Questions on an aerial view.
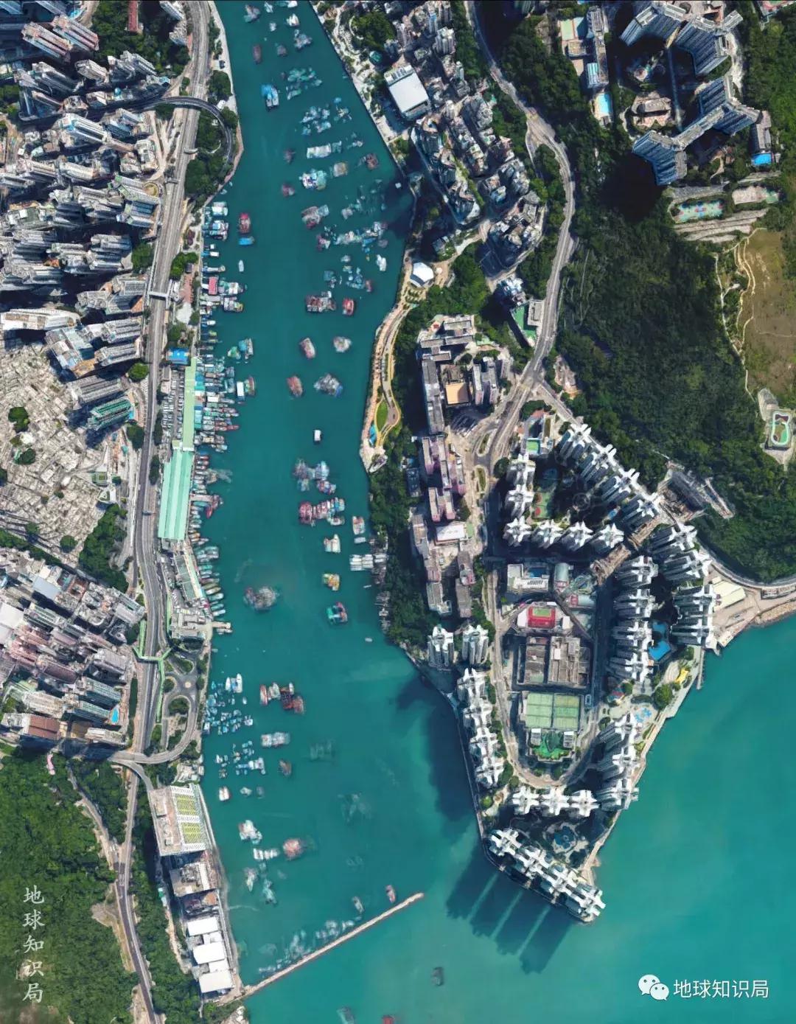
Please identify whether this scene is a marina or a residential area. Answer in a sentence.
The picture captures a marina.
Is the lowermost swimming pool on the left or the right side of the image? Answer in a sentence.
You can find the lowermost swimming pool on the right side of the picture.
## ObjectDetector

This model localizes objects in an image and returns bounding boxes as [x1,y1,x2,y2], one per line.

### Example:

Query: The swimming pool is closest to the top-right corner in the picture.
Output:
[749,152,773,168]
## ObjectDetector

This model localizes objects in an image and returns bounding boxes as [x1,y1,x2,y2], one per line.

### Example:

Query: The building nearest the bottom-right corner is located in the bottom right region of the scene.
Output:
[562,869,605,917]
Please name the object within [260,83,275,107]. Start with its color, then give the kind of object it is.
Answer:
blue boat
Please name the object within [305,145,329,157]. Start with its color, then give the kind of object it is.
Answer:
white boat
